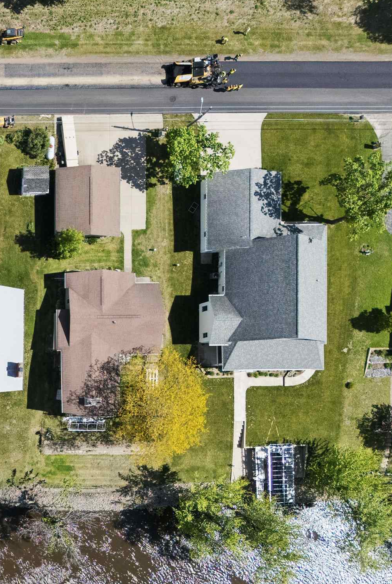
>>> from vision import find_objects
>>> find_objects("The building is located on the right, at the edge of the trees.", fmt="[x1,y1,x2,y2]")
[198,167,328,371]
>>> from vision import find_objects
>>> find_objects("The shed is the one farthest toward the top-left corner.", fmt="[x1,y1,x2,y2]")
[19,165,50,198]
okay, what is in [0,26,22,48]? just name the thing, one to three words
work vehicle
